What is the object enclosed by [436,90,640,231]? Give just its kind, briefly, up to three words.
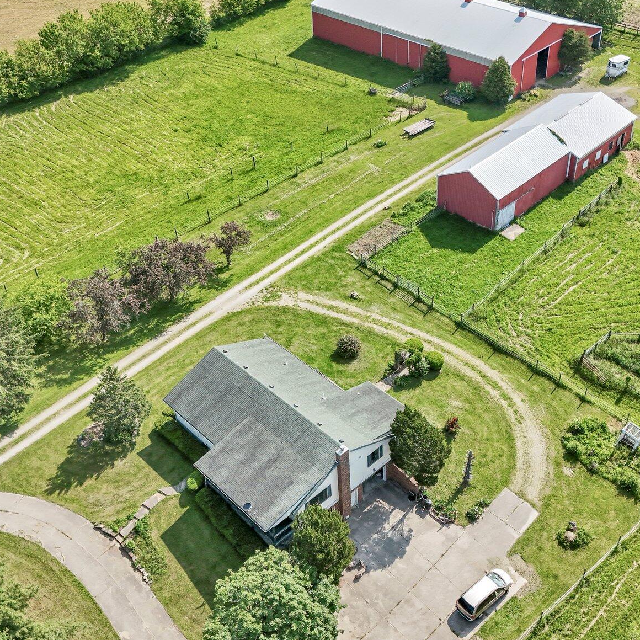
barn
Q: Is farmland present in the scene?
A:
Yes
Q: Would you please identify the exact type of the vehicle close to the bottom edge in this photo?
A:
automobile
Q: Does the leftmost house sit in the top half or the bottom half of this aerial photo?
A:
bottom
